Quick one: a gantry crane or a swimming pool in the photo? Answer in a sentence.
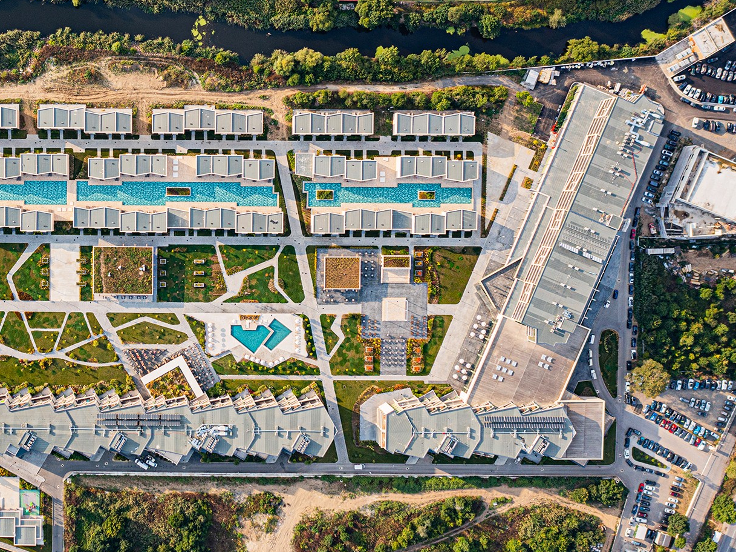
Visible in the photo is a swimming pool.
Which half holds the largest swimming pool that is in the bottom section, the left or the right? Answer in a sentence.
The largest swimming pool that is in the bottom section sits on the left side.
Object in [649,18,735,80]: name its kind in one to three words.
building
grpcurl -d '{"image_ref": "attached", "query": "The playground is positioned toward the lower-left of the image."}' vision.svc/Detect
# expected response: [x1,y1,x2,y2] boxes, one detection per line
[19,490,40,516]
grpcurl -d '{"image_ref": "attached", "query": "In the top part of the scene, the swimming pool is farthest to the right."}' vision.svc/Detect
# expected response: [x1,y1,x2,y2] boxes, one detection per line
[303,182,473,208]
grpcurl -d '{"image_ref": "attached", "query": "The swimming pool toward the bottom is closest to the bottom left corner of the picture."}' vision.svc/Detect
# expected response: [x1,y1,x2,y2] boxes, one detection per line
[230,325,271,353]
